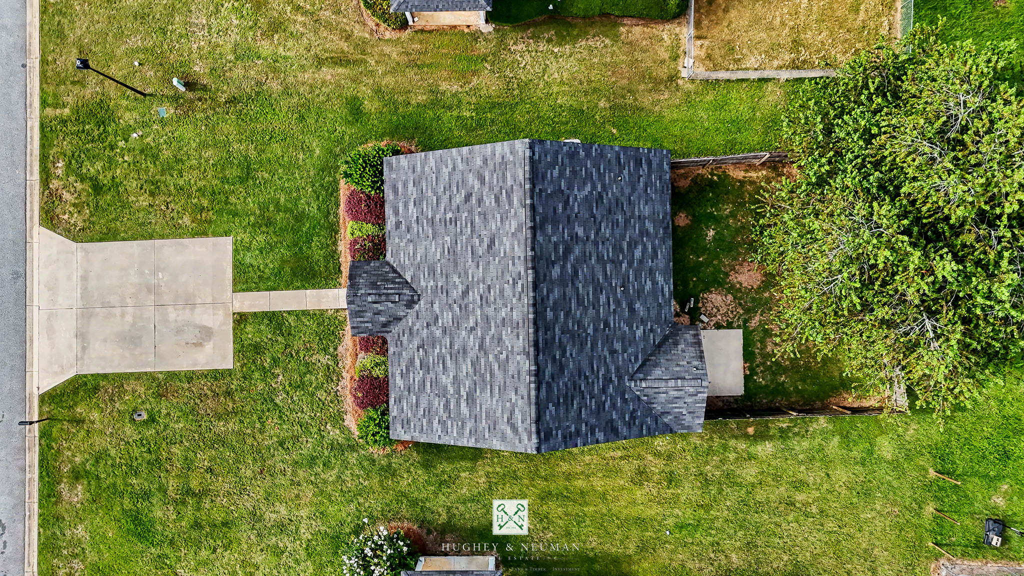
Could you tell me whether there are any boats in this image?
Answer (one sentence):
No, the picture doesn't show any boat.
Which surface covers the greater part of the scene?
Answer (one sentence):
The bulk of the photo consists of grass.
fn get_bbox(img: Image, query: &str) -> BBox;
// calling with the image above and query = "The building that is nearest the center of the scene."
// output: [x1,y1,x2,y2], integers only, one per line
[346,138,709,453]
